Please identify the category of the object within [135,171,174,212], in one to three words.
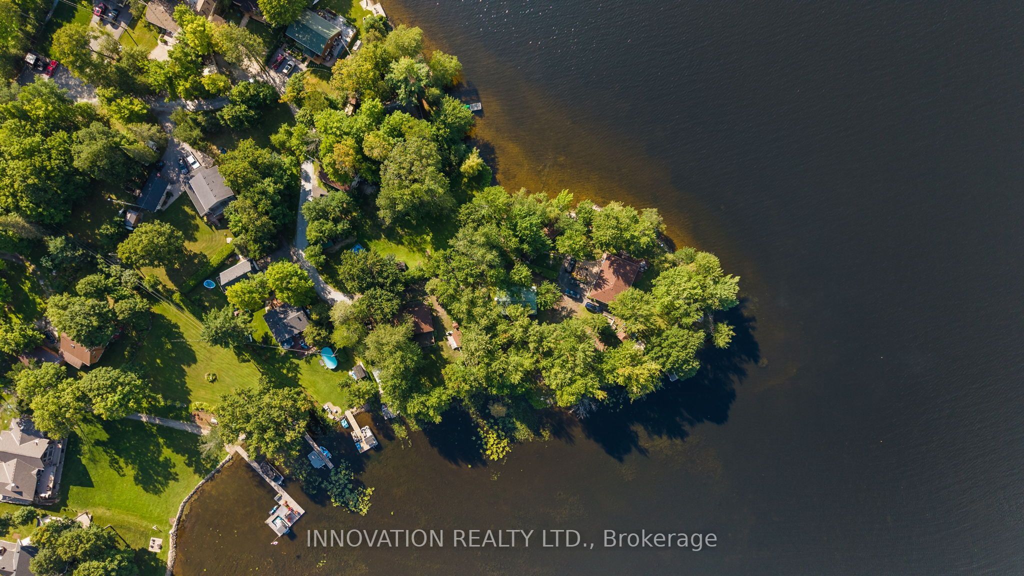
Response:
building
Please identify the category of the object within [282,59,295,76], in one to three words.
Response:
vehicle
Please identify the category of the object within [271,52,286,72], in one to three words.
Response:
vehicle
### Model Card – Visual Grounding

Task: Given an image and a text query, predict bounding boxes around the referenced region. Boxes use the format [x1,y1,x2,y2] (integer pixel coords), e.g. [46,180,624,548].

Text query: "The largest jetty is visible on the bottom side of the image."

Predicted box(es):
[234,444,308,536]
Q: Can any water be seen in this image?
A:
Yes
